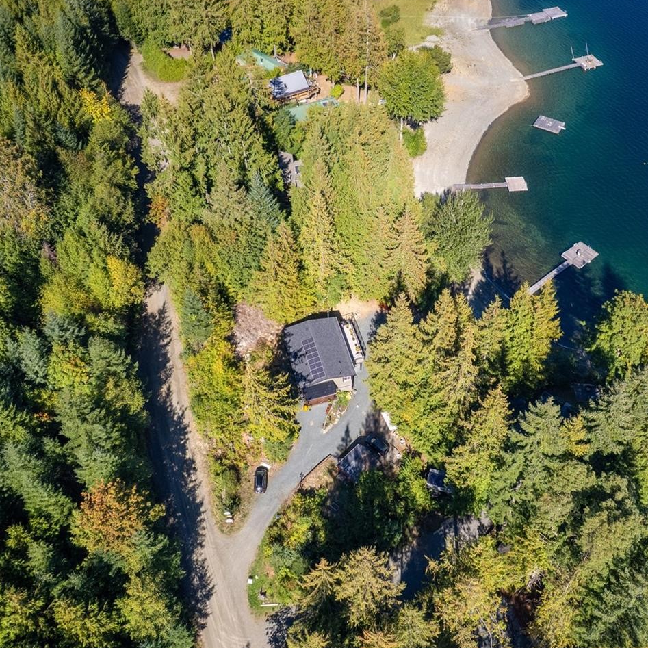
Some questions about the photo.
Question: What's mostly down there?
trees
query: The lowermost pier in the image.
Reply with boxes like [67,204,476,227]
[525,240,599,297]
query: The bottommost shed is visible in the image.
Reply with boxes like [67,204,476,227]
[337,445,381,489]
